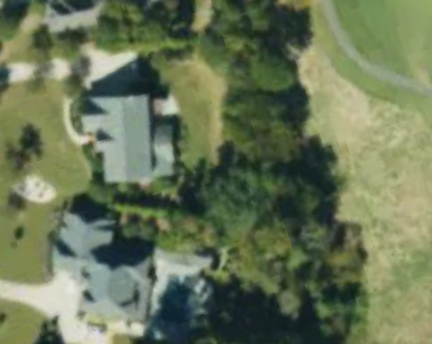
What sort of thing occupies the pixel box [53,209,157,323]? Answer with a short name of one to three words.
house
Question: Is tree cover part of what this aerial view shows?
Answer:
Yes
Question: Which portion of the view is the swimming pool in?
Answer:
bottom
